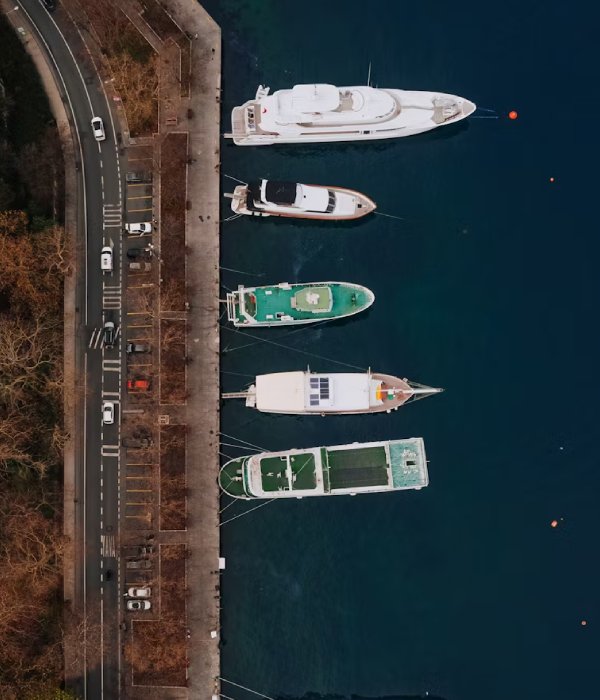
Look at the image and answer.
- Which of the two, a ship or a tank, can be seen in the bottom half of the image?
ship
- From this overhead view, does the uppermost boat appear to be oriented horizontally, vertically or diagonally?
horizontally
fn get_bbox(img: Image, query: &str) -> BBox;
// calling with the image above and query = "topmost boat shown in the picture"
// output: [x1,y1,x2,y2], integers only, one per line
[224,60,476,148]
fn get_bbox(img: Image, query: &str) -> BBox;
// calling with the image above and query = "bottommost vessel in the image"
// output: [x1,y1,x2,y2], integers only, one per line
[219,436,430,501]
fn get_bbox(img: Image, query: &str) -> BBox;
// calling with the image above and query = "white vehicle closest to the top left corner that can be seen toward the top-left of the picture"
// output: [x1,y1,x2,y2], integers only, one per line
[90,115,105,139]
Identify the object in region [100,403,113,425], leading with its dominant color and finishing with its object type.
white vehicle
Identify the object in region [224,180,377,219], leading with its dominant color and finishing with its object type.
white boat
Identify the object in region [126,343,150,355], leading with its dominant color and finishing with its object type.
gray vehicle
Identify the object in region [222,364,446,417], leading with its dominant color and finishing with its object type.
white boat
